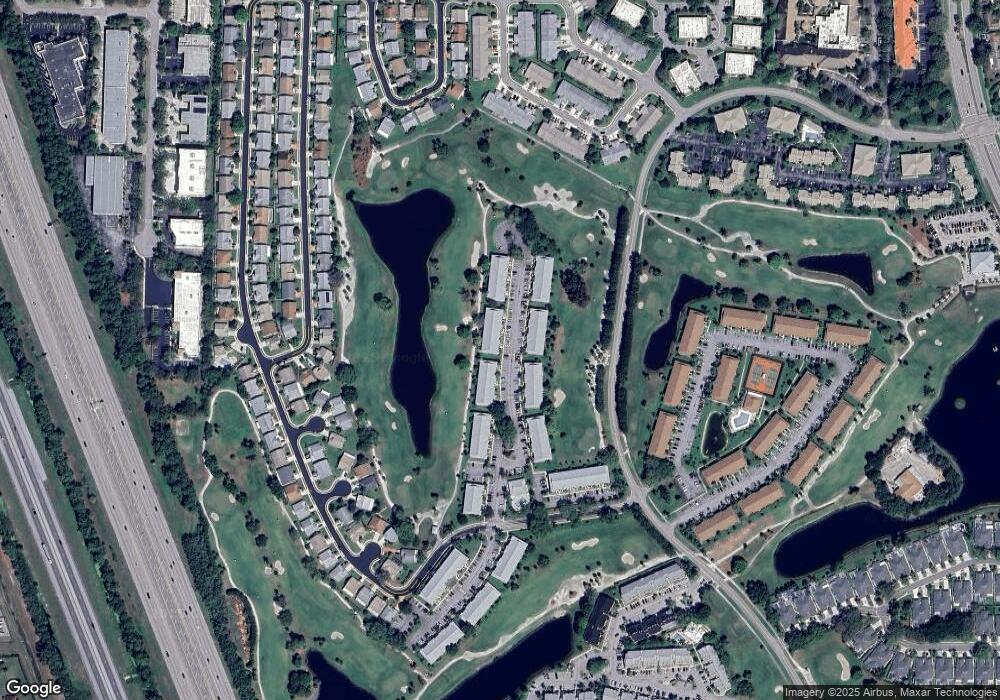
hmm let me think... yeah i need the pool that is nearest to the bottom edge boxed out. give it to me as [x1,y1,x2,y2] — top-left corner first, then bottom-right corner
[671,622,710,644]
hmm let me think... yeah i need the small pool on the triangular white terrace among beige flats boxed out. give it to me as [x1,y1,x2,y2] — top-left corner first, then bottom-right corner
[802,119,825,143]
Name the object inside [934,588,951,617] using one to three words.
house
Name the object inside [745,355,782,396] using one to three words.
sports court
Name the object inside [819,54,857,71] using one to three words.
building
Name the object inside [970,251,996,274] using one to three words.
building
